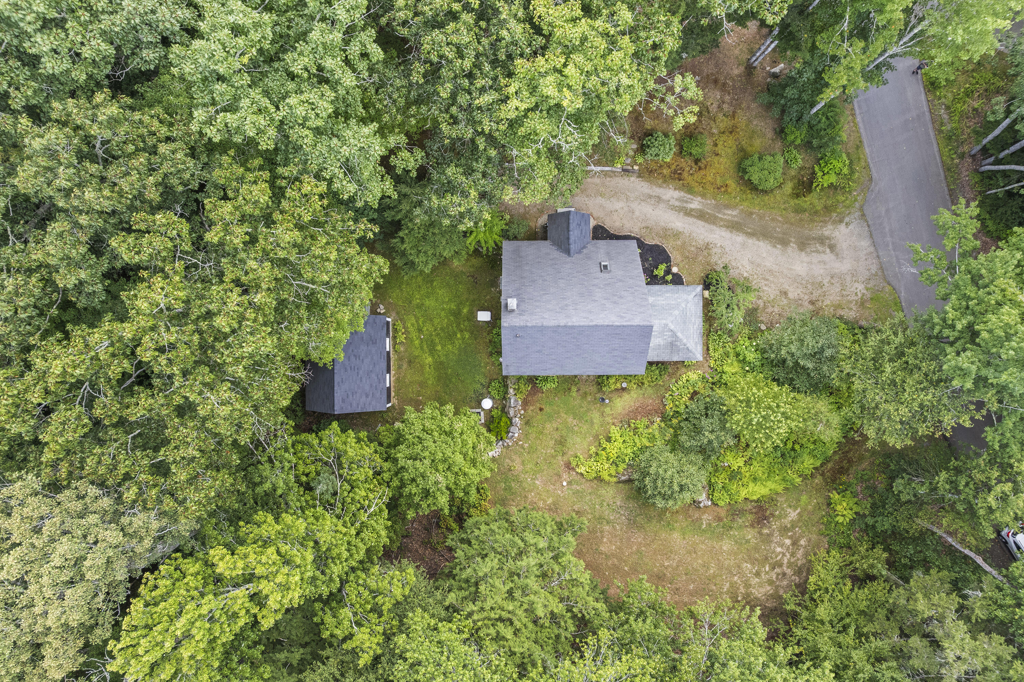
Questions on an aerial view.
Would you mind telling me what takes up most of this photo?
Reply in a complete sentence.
For the most part, this view shows trees.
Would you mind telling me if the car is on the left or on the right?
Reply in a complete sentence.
It is on the right.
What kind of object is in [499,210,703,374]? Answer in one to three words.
house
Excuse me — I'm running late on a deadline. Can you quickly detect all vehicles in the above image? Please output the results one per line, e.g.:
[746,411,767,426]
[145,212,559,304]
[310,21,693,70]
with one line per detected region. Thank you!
[1004,523,1024,571]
